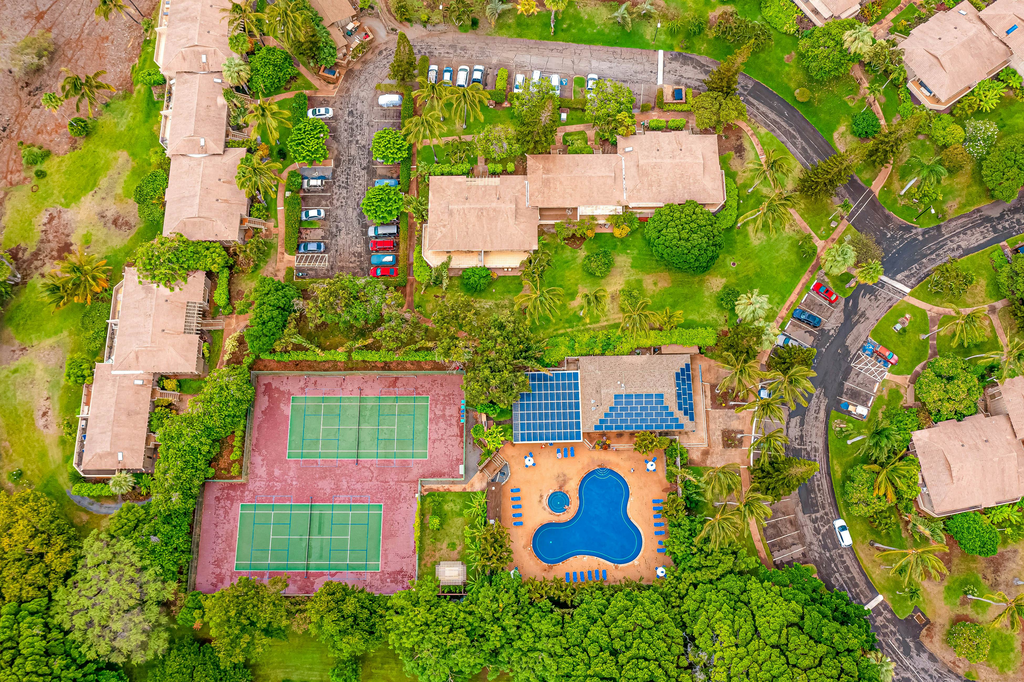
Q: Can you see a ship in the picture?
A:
No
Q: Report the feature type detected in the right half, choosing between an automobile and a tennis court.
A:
automobile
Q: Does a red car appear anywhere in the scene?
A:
Yes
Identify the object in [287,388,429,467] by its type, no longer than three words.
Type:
tennis court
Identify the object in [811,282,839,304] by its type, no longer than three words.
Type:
car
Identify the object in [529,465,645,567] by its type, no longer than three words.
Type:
swimming pool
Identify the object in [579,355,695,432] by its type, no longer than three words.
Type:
building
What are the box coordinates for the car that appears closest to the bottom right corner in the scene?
[833,517,852,549]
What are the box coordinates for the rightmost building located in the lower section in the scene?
[903,372,1024,517]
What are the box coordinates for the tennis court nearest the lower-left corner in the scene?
[235,496,383,580]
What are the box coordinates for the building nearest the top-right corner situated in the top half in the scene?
[888,0,1024,120]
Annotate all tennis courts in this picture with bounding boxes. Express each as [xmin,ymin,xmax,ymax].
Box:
[235,496,383,580]
[287,388,429,467]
